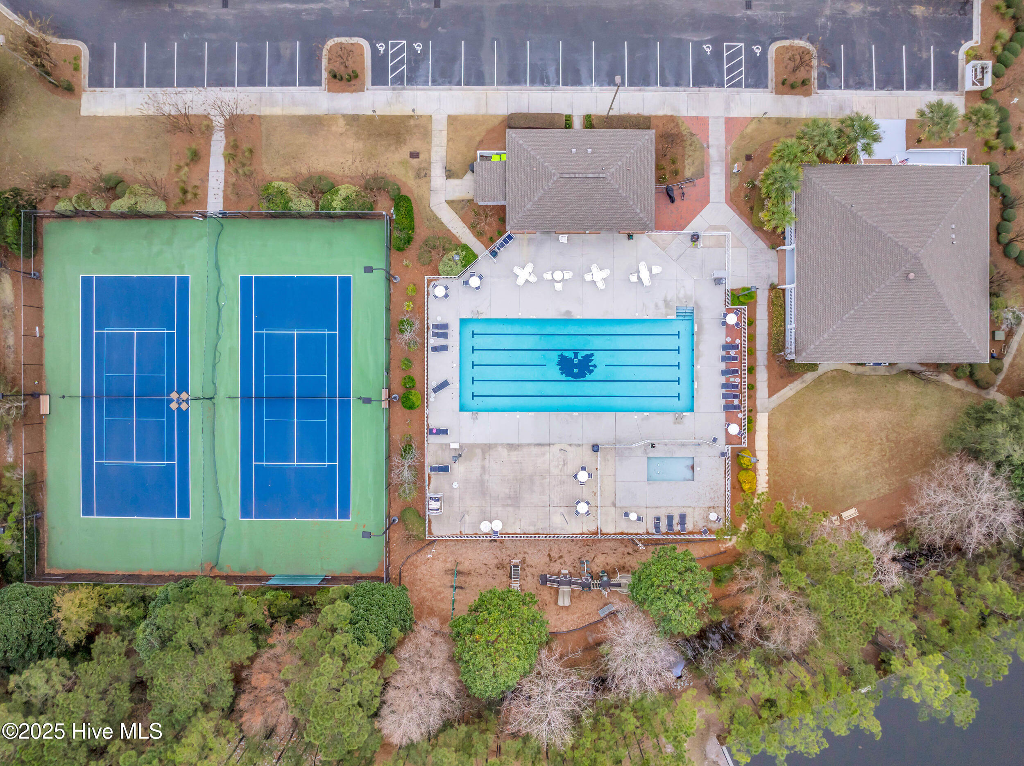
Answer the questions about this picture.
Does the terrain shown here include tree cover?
Yes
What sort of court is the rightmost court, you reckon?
tennis court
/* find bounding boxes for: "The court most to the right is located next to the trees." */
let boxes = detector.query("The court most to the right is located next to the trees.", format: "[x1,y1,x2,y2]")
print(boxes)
[215,218,390,575]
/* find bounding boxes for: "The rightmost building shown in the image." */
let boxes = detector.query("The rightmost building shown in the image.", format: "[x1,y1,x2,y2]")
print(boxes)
[776,146,990,364]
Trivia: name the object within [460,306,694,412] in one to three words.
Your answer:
swimming pool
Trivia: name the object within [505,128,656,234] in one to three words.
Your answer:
building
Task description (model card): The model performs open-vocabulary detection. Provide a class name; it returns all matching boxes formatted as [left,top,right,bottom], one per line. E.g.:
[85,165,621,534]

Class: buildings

[505,128,656,234]
[776,146,990,364]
